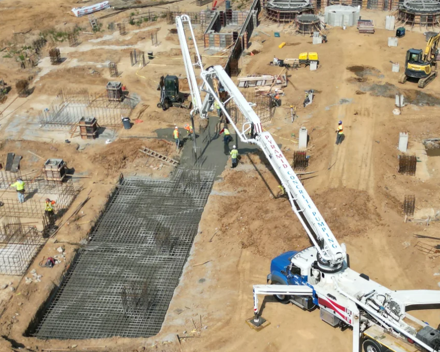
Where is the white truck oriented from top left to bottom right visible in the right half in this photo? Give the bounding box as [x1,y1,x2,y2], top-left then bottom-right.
[176,8,440,352]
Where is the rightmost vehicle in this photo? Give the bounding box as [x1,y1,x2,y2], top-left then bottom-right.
[401,25,440,85]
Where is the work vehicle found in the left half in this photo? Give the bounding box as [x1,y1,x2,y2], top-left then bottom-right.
[159,77,186,109]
